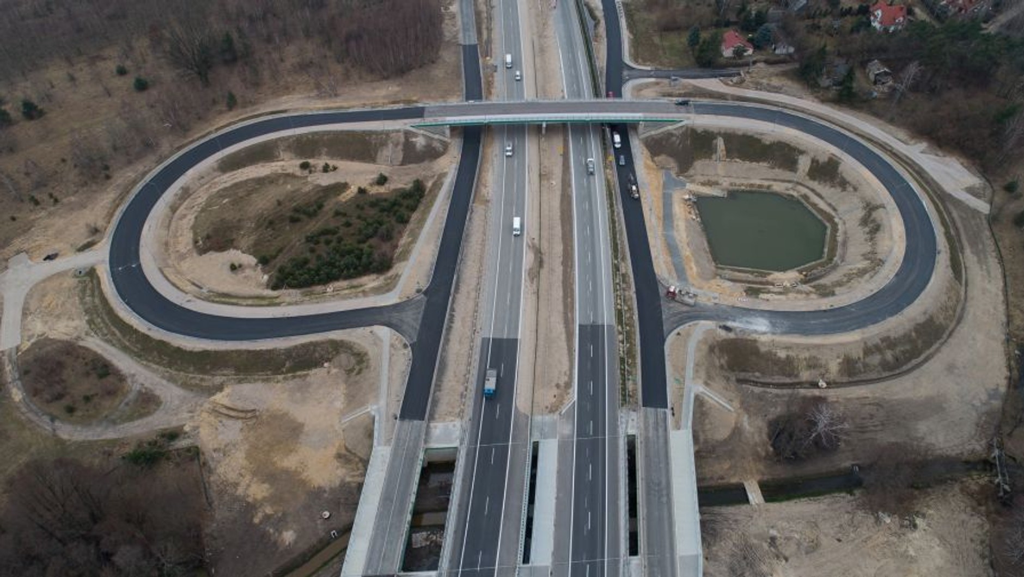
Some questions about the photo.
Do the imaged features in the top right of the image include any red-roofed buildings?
Yes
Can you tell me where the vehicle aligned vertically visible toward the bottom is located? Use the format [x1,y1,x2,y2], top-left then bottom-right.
[482,365,496,402]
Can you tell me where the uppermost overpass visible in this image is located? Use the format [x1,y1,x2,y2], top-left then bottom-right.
[409,96,693,141]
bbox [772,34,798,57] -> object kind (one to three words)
house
